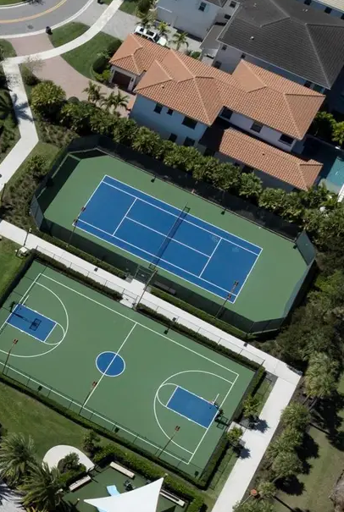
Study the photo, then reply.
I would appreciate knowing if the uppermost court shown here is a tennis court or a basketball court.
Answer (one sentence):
It turns out the uppermost court is a tennis court.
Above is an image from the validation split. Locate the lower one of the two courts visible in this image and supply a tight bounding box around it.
[0,261,255,475]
